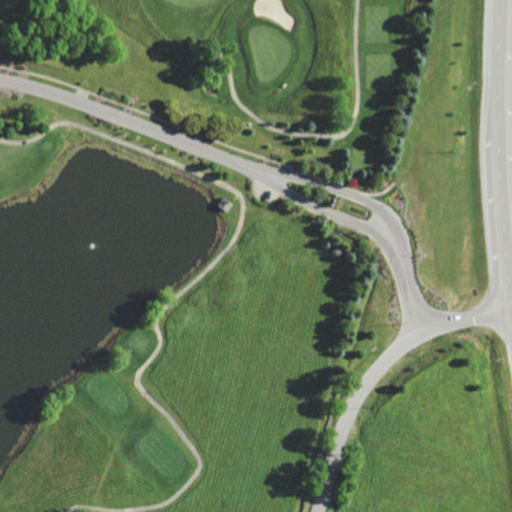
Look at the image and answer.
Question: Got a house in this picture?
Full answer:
No, there is no house in the image.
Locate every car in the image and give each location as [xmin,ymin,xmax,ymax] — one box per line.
[260,192,270,202]
[450,316,462,320]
